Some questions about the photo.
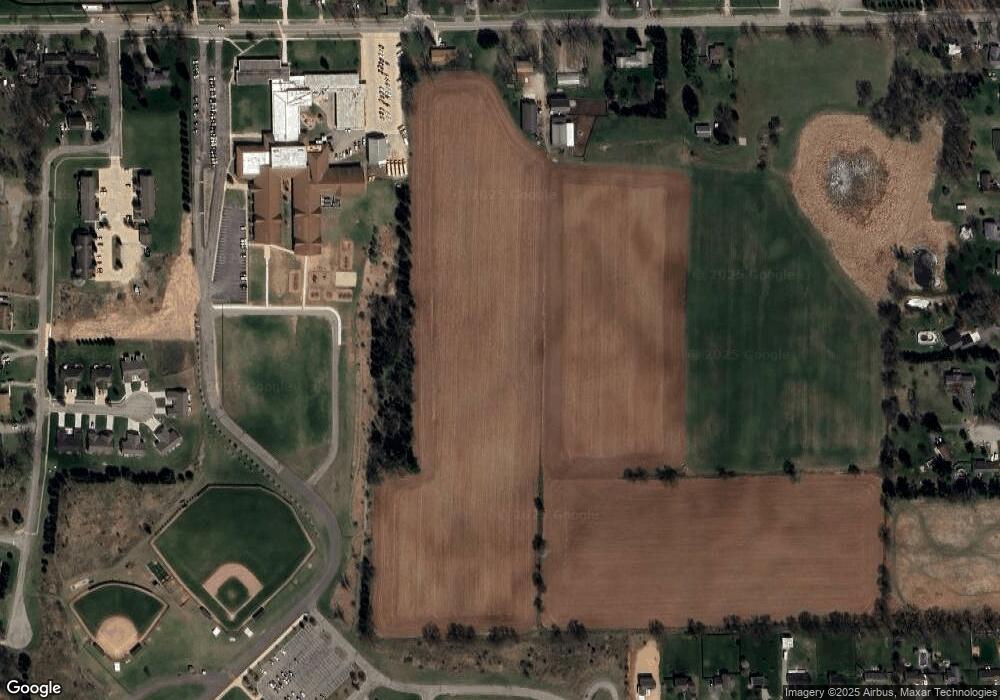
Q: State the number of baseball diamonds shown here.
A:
two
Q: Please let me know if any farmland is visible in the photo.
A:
Yes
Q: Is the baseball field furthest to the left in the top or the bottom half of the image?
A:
bottom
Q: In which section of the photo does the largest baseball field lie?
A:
bottom left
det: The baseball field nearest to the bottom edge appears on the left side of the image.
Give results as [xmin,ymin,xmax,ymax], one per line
[70,583,169,660]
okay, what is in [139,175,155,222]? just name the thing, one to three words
building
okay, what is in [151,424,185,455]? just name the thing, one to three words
house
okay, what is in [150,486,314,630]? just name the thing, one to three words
baseball field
